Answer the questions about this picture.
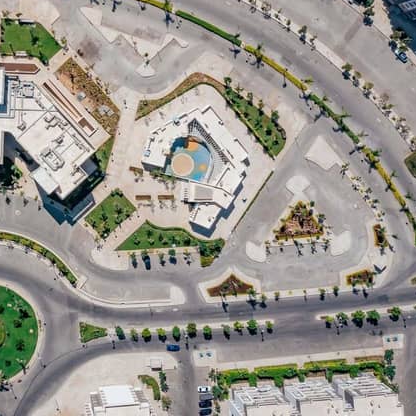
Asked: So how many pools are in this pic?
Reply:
zero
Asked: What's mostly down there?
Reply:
paved ground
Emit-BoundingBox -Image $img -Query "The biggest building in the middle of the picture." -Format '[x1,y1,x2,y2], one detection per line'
[139,106,249,228]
